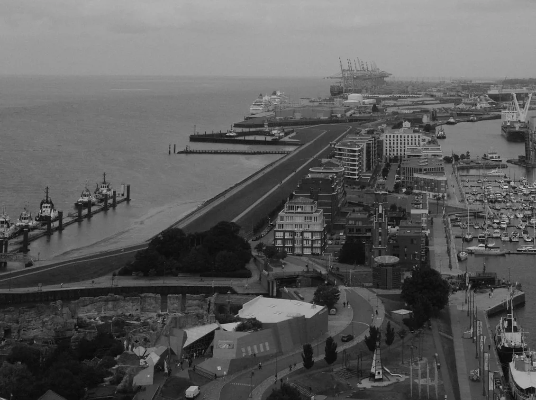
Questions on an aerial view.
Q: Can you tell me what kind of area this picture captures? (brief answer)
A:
port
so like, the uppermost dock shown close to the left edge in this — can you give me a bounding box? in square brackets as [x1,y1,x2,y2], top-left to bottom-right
[0,198,131,258]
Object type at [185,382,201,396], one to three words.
vehicle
